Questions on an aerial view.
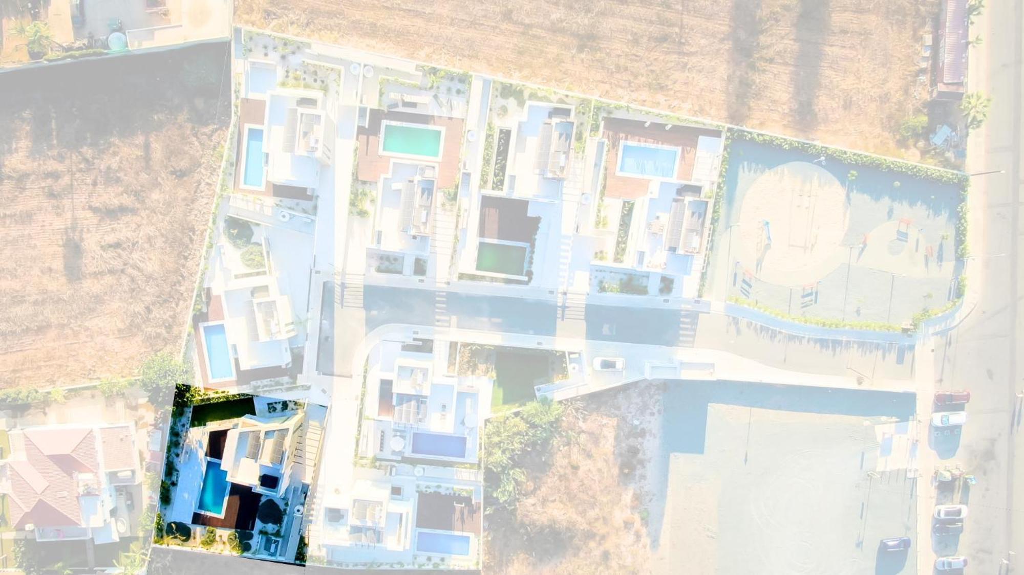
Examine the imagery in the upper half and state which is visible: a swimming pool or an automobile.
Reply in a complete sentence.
There is a swimming pool in the upper half.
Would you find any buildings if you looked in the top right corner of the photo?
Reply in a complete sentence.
Yes, a building is visible in the top right corner of the photo.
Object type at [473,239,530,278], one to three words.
swimming pool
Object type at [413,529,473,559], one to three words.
swimming pool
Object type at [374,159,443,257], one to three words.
house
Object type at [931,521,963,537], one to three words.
car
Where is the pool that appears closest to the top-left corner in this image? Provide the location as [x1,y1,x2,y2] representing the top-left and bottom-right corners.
[240,125,266,191]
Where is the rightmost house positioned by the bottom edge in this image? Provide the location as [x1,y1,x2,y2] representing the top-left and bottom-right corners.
[322,471,418,551]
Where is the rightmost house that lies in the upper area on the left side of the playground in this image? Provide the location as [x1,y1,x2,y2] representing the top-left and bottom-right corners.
[629,180,713,275]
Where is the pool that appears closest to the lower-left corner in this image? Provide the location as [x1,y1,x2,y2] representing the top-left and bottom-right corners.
[194,459,229,518]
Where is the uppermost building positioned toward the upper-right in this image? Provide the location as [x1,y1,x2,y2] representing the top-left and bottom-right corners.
[925,0,967,100]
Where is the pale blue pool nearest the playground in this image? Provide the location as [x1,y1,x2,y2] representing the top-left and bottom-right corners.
[616,142,680,180]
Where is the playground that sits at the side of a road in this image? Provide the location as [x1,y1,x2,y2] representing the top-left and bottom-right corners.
[709,130,966,330]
